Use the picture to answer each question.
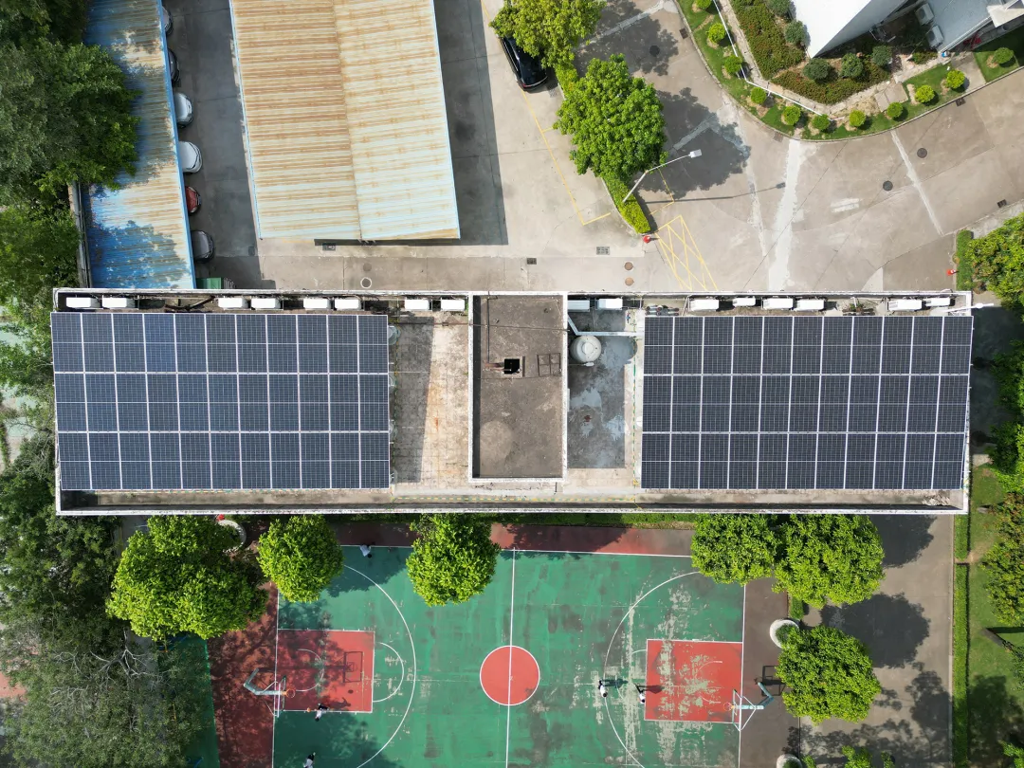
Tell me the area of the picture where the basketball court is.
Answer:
bottom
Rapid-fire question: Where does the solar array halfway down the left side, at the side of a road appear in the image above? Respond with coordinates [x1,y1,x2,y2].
[50,314,395,489]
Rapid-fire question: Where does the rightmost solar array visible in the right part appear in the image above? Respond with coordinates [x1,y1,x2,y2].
[636,316,974,489]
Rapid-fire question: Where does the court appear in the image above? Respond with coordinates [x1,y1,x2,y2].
[205,514,799,768]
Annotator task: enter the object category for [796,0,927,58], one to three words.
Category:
building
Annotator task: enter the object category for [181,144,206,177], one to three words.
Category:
car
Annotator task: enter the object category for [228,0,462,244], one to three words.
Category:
shed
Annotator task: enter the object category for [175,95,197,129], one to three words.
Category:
car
